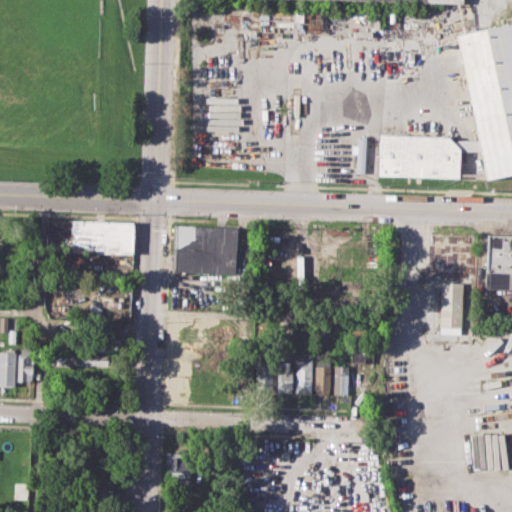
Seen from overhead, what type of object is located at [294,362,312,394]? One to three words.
house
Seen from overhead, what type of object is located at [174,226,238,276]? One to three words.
building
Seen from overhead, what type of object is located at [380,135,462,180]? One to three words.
building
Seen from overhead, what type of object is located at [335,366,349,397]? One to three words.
house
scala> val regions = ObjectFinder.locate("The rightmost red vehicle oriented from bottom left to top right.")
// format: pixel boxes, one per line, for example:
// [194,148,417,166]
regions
[486,352,506,370]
